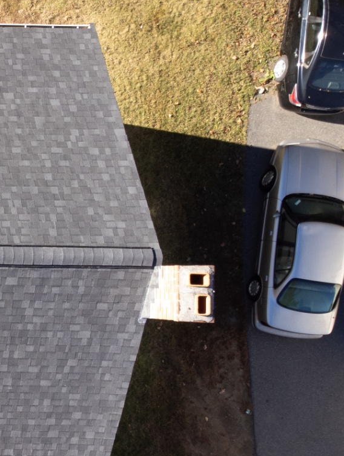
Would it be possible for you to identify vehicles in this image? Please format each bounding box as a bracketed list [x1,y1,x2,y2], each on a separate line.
[269,0,344,120]
[243,136,344,340]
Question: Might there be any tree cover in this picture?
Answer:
No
